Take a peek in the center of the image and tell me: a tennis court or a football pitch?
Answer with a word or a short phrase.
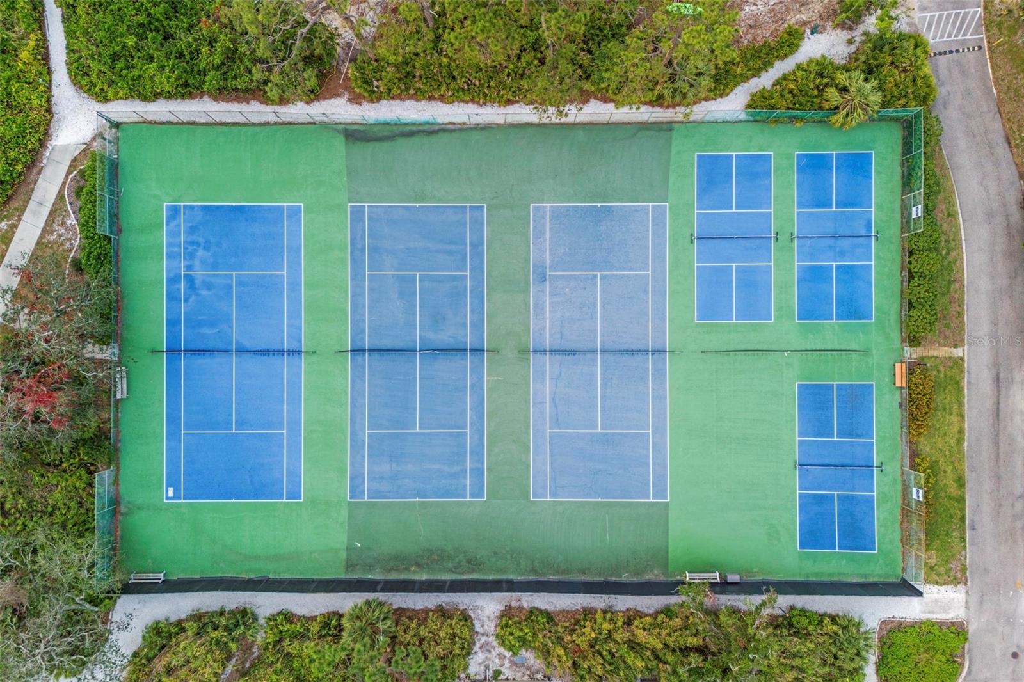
tennis court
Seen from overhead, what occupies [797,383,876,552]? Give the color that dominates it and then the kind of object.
blue sports court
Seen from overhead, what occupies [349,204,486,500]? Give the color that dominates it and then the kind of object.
blue tennis court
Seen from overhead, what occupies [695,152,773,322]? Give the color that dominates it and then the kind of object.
blue sports court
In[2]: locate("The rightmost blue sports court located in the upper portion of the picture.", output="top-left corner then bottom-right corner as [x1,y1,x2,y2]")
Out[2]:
[796,151,874,321]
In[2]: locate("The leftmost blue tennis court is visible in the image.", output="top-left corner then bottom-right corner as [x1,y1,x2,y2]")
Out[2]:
[164,204,303,501]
